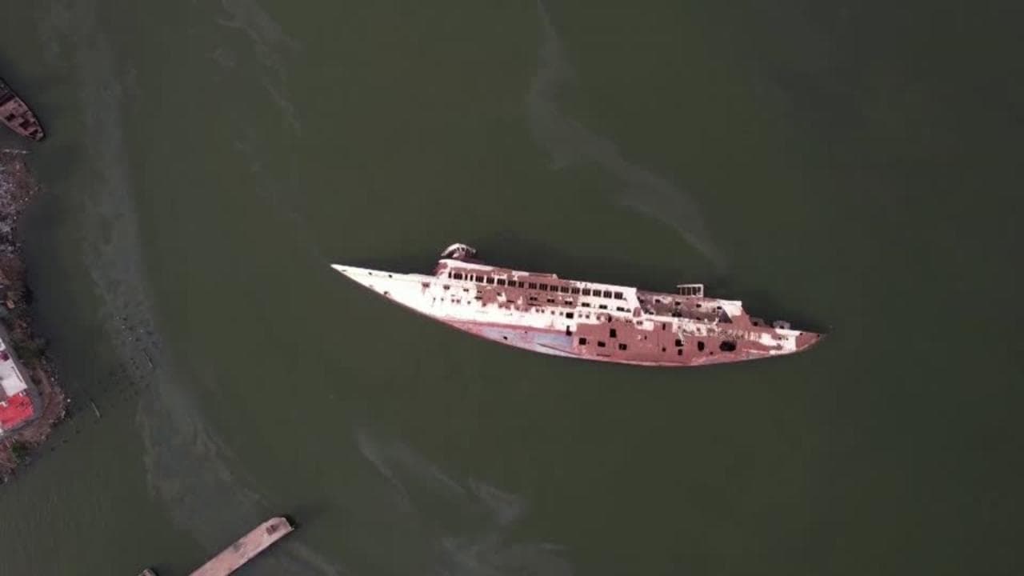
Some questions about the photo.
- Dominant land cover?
water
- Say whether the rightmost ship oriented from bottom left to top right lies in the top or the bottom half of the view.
bottom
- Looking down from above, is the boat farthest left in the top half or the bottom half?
top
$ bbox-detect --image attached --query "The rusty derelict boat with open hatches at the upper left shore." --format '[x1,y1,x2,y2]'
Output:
[0,76,47,140]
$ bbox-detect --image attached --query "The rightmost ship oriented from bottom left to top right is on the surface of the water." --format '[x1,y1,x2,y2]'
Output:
[190,517,295,576]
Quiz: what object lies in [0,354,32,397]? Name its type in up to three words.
house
